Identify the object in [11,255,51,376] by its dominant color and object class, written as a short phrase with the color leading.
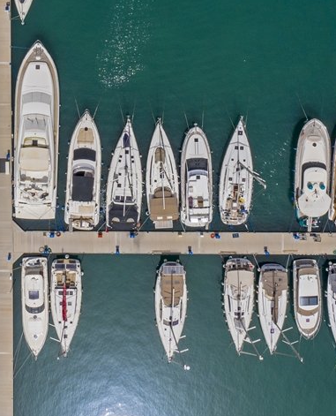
white boat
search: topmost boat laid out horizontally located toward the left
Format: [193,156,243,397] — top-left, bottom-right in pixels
[73,218,100,231]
